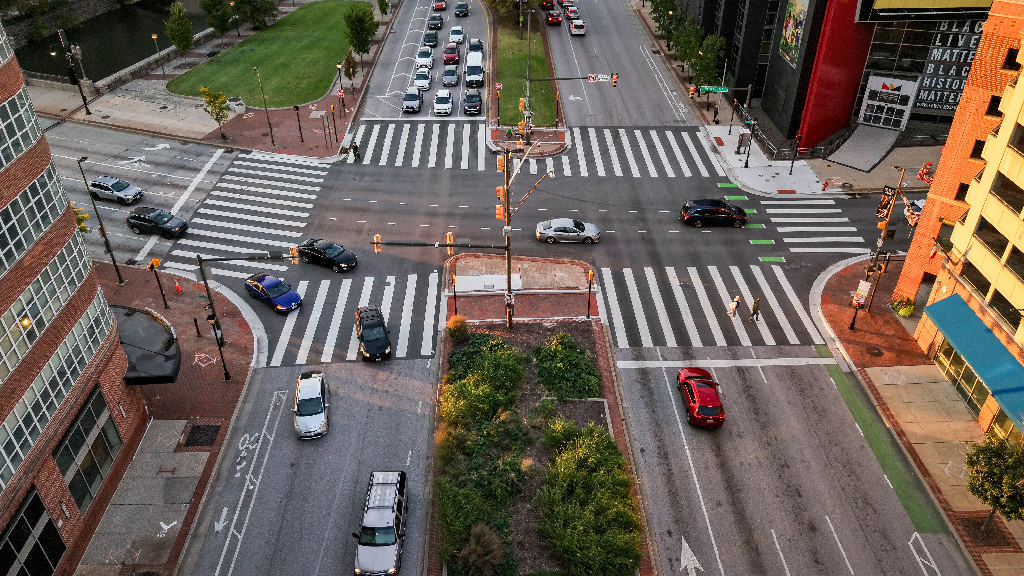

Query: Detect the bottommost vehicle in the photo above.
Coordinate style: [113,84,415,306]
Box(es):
[350,469,407,576]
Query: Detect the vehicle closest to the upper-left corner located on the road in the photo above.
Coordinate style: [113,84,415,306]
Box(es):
[84,174,143,205]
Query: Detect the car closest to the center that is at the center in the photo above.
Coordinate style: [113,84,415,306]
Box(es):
[536,217,602,244]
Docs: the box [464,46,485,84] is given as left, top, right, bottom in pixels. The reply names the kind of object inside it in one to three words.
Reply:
vehicle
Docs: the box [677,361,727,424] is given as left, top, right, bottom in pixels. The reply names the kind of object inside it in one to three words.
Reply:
car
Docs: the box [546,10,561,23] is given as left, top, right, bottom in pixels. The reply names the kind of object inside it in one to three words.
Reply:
vehicle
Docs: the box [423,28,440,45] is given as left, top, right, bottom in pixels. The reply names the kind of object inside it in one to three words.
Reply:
car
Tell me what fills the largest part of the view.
paved ground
